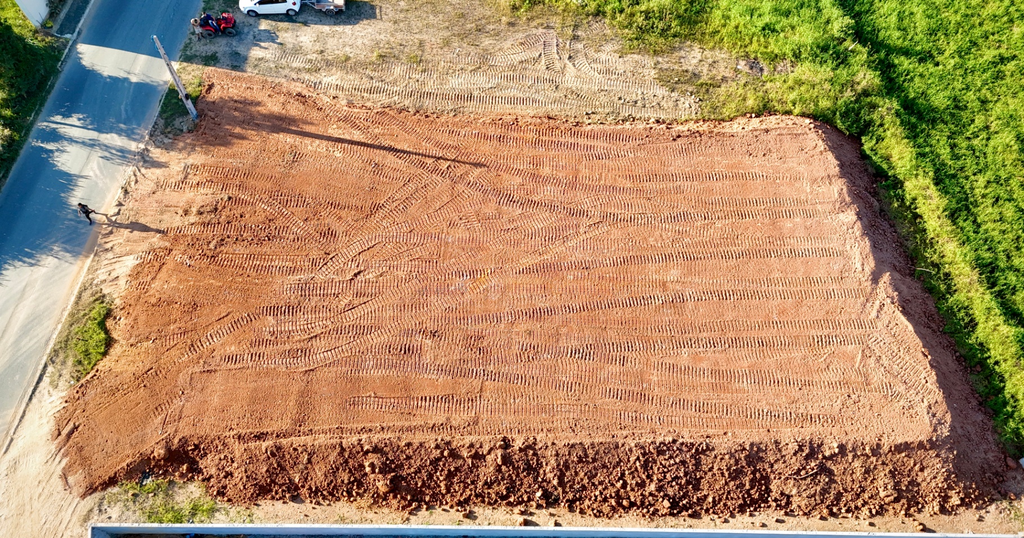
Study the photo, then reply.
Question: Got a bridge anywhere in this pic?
No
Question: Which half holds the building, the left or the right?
left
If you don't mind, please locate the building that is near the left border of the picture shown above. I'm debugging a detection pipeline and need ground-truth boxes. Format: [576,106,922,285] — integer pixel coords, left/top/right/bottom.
[10,0,53,31]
